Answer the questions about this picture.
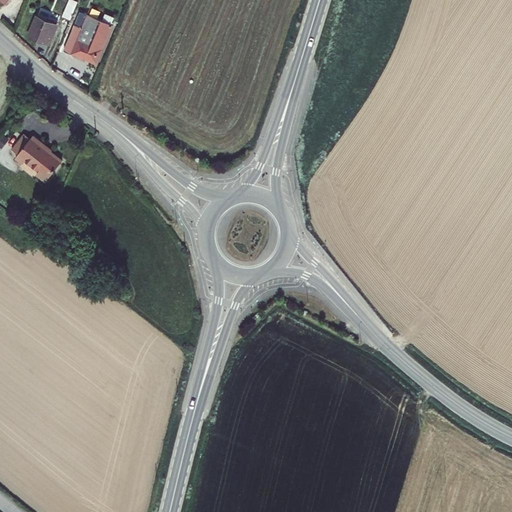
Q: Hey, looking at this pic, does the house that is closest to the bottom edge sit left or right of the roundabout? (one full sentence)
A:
The house that is closest to the bottom edge appears to the left of the roundabout in this view.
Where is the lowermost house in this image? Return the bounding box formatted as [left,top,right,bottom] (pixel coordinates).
[12,134,60,182]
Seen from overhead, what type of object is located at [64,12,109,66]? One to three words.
house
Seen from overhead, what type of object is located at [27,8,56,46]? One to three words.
house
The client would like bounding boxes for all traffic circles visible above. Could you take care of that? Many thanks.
[188,166,308,300]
